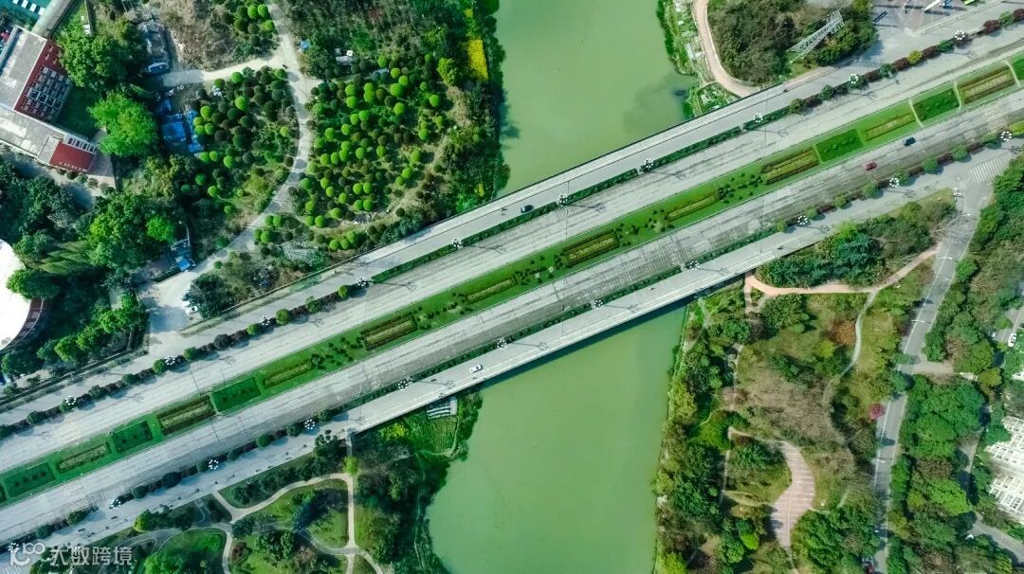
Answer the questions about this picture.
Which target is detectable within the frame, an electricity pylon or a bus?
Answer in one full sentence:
Of the two, only an electricity pylon appears.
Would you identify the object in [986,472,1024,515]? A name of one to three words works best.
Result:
building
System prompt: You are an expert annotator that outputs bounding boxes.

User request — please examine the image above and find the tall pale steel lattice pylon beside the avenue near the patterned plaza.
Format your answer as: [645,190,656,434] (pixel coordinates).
[788,9,845,62]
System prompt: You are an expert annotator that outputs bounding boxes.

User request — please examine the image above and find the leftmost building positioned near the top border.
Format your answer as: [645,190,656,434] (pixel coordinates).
[0,24,99,173]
